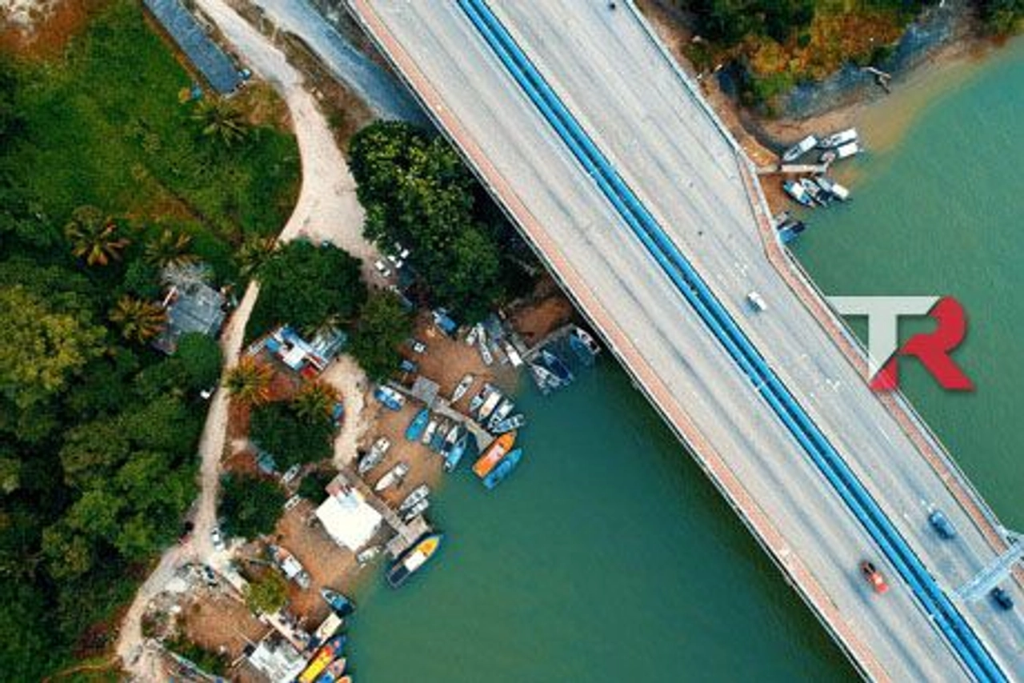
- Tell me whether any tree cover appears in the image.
Yes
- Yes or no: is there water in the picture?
Yes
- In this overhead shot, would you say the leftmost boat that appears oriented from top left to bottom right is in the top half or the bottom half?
bottom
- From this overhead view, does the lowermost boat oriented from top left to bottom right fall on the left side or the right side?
left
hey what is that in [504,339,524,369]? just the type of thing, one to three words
boat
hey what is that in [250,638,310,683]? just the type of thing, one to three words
shed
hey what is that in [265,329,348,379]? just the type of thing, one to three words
house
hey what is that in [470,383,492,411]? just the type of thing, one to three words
boat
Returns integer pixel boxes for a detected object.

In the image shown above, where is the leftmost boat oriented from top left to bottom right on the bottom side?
[268,543,316,595]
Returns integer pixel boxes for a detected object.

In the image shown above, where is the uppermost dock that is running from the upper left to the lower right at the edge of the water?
[390,376,497,453]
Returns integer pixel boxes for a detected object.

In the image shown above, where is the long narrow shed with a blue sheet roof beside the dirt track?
[145,0,247,97]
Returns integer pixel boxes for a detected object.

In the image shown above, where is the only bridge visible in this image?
[338,0,1024,683]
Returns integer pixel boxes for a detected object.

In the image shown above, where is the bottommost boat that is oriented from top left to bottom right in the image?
[321,588,360,620]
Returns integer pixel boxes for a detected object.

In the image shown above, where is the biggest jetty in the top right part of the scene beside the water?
[756,156,833,175]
